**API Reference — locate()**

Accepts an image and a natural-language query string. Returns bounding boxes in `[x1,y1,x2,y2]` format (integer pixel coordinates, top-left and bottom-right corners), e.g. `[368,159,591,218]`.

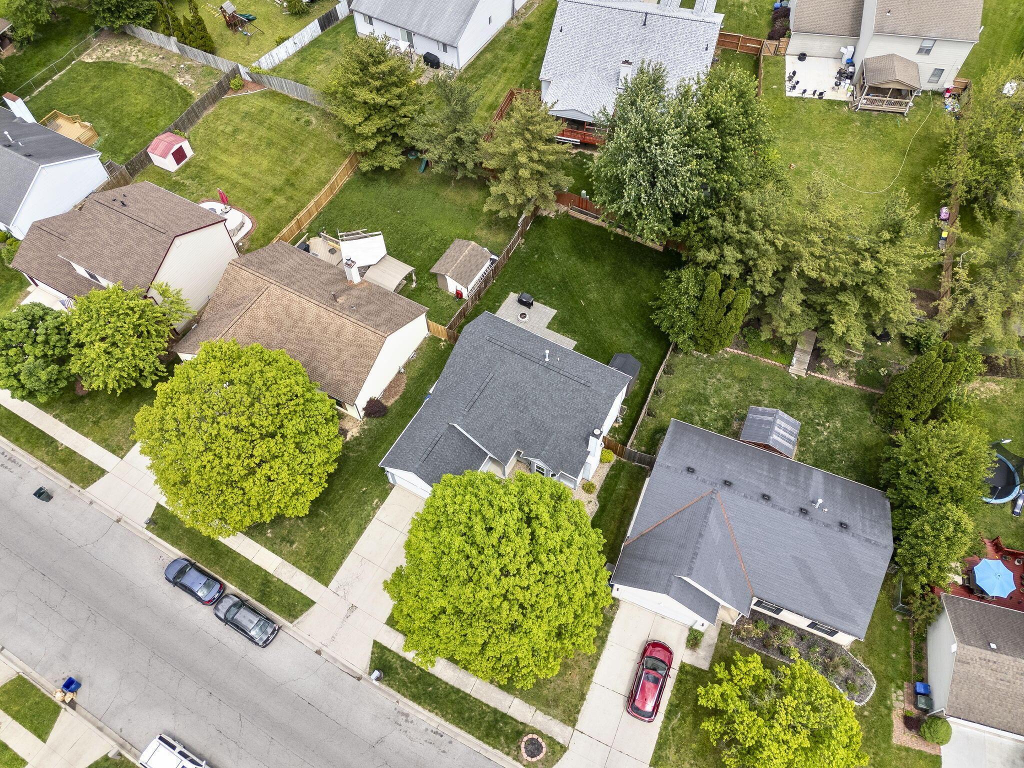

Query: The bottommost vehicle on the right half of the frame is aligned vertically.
[626,640,672,726]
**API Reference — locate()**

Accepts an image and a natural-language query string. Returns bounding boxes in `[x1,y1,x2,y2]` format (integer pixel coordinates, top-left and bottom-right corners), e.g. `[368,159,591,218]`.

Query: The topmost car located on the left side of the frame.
[162,554,228,612]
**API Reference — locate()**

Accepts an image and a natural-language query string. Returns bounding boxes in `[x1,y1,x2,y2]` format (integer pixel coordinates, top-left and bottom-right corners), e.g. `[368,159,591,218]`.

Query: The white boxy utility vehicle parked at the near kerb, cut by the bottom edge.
[138,735,210,768]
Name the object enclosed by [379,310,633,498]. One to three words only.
house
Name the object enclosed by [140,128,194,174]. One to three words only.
shed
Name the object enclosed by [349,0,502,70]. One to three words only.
house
